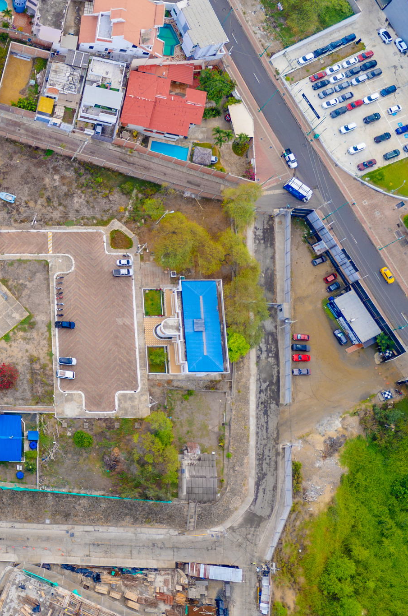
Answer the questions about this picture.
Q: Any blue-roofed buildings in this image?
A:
Yes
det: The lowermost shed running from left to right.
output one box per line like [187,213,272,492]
[187,562,242,582]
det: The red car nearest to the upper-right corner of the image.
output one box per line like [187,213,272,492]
[358,47,378,61]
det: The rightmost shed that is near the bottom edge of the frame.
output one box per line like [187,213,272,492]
[256,575,272,614]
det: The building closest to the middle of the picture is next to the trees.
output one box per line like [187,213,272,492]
[152,279,231,376]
